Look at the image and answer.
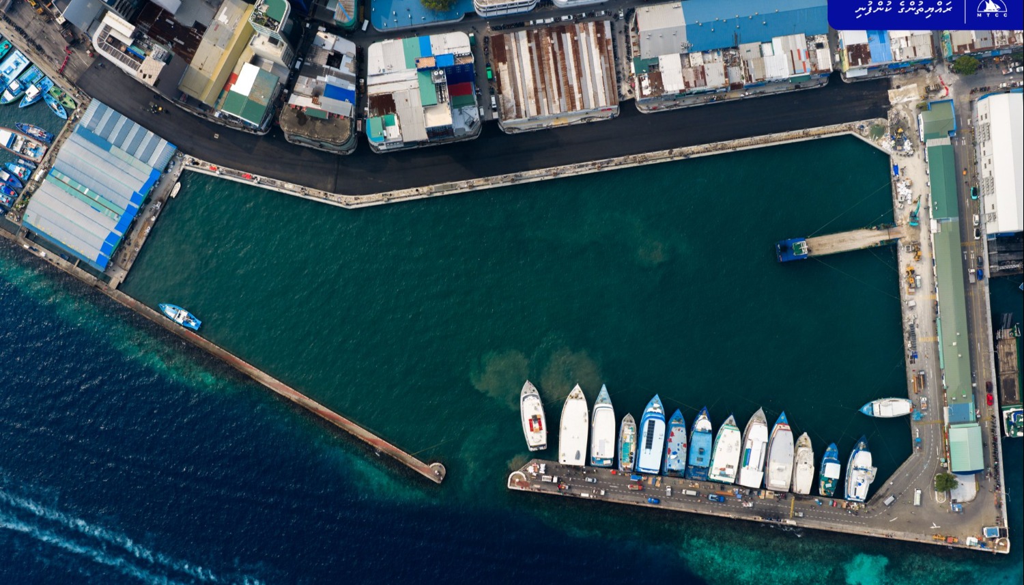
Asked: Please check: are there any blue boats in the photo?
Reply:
Yes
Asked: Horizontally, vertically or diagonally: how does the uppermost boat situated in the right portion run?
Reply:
horizontally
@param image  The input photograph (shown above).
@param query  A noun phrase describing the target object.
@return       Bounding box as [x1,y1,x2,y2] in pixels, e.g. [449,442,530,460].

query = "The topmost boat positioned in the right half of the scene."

[772,230,896,262]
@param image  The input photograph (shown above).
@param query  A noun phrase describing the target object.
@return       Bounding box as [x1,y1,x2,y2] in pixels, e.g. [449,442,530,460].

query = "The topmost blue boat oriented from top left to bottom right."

[48,91,73,120]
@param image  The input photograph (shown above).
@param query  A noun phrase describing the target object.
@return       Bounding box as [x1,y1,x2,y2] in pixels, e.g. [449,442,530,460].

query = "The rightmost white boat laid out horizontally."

[855,397,910,418]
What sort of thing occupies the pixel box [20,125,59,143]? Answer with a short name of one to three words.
boat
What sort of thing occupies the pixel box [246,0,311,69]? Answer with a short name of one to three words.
building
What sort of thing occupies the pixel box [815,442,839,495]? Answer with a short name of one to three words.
boat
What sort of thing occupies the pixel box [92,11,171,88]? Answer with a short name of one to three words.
building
